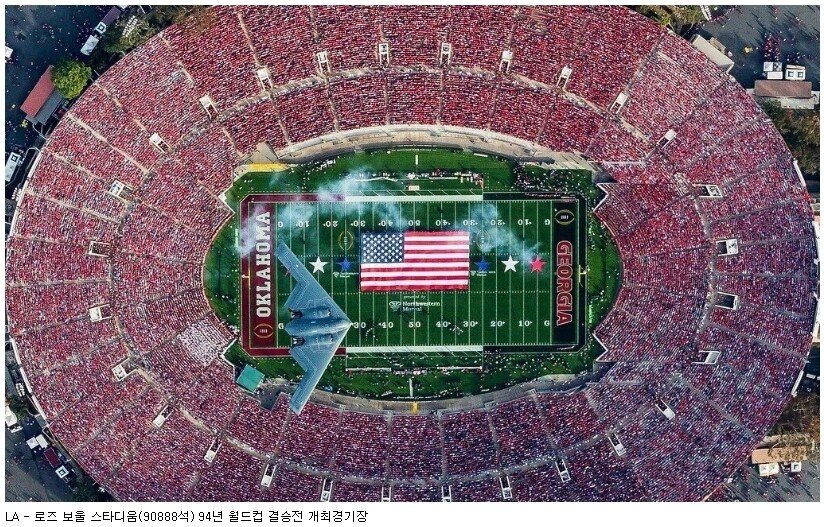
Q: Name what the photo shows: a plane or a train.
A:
plane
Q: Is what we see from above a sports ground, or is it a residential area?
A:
sports ground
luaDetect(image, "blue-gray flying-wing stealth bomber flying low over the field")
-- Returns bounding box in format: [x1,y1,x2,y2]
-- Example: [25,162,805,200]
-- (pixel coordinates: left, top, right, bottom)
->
[274,242,351,414]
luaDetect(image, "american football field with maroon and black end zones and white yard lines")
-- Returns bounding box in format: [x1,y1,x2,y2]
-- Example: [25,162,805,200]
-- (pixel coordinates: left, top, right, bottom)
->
[241,177,598,369]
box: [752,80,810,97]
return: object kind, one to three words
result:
building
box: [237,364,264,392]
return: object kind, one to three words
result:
tent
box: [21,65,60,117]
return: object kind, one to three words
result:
building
